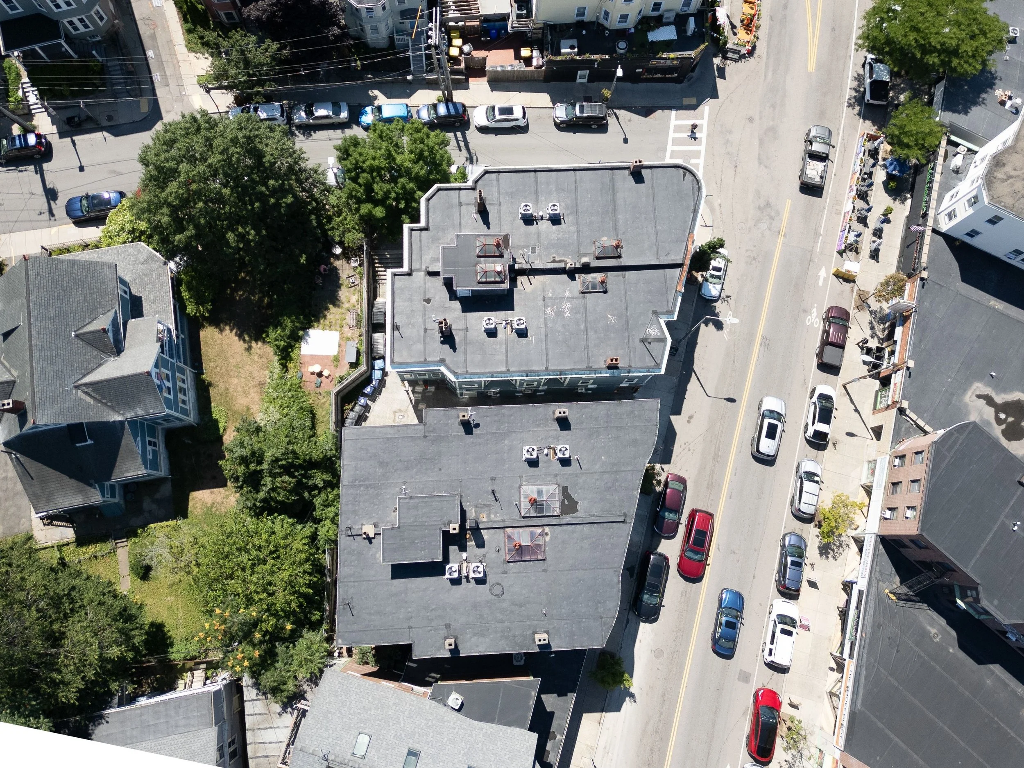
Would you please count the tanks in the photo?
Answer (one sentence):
I count no tanks.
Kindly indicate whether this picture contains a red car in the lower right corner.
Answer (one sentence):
Yes, there is a red car in the lower right corner.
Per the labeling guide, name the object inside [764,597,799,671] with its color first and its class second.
white car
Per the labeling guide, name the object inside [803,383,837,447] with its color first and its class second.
white car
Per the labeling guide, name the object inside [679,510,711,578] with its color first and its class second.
red car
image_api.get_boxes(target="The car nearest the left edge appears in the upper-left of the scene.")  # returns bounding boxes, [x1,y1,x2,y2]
[0,131,50,163]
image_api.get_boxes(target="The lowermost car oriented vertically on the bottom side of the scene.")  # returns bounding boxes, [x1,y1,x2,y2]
[747,687,783,762]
